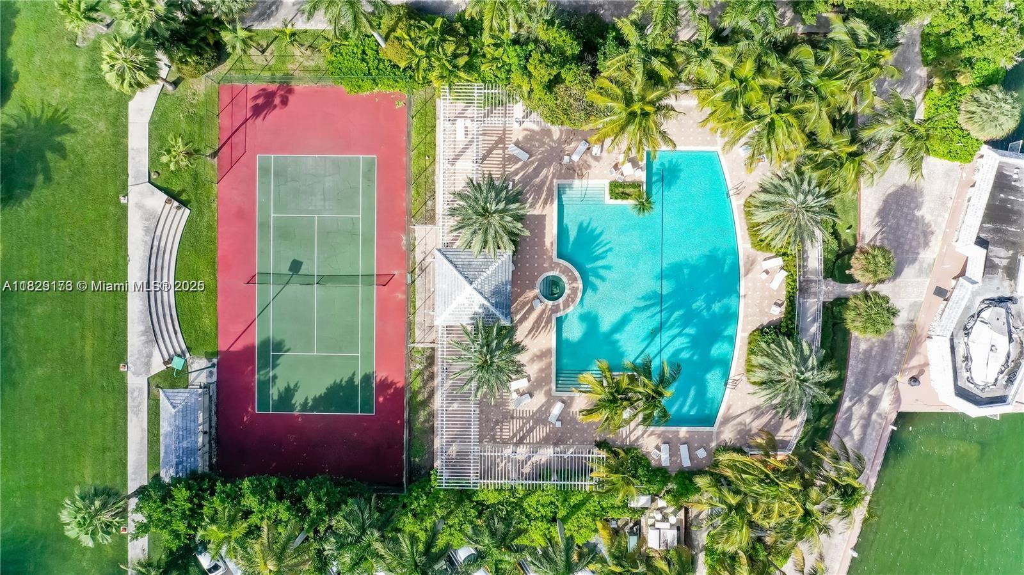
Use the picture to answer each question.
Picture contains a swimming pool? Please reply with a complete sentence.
Yes, I can see a swimming pool in this picture.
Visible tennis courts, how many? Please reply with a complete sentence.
The picture shows just 1 tennis court.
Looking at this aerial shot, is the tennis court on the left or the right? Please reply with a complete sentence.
The tennis court sits on the left side.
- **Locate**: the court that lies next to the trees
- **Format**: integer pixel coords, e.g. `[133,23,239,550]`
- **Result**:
[217,84,408,484]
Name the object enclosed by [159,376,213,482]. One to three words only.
shed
